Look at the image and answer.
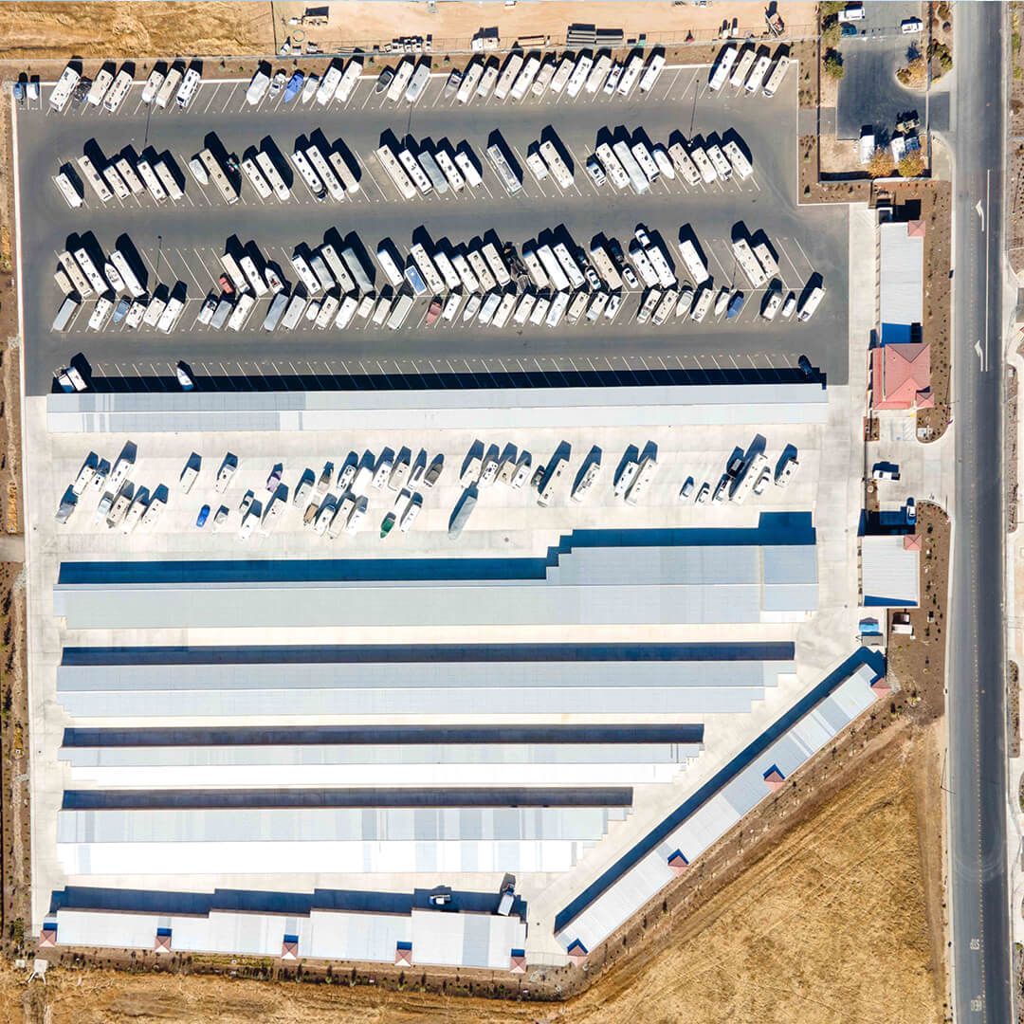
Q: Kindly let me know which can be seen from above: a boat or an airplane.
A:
boat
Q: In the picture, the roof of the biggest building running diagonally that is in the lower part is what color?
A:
white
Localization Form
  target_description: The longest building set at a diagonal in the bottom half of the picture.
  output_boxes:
[556,665,889,958]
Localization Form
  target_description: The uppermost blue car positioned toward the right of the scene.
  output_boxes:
[839,25,858,37]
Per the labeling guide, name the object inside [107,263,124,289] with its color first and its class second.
white boat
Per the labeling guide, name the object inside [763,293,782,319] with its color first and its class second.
white camper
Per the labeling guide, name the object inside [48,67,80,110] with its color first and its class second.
white trailer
